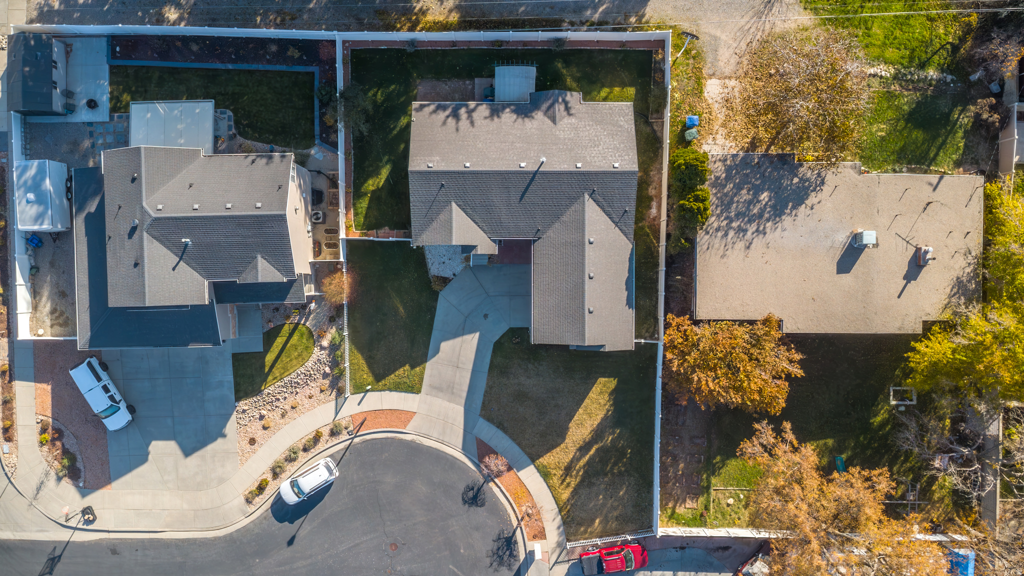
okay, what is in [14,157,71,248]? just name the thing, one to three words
trailer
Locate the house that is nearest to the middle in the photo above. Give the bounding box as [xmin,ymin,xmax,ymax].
[408,90,639,352]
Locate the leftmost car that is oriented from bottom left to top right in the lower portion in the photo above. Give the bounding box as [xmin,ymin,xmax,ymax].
[277,458,338,507]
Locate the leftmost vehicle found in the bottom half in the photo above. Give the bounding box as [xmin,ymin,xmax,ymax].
[66,359,128,429]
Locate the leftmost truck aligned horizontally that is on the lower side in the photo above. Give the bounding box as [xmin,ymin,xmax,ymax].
[578,538,650,575]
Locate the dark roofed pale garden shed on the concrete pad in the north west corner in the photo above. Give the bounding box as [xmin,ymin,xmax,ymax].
[7,30,66,118]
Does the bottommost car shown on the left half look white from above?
Yes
